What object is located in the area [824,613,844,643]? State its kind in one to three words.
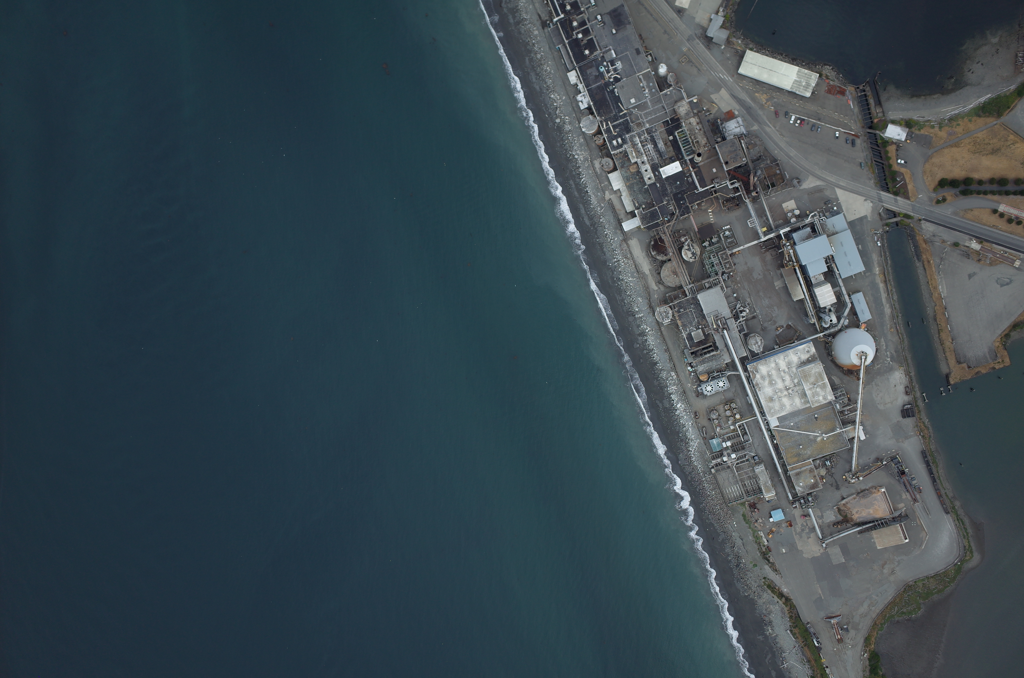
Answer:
vehicle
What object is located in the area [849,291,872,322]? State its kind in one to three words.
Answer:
building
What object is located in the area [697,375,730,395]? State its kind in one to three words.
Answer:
cooling tower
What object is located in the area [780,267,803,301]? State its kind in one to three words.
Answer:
shed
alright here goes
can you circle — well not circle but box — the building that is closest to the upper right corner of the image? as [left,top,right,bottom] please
[883,123,909,142]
